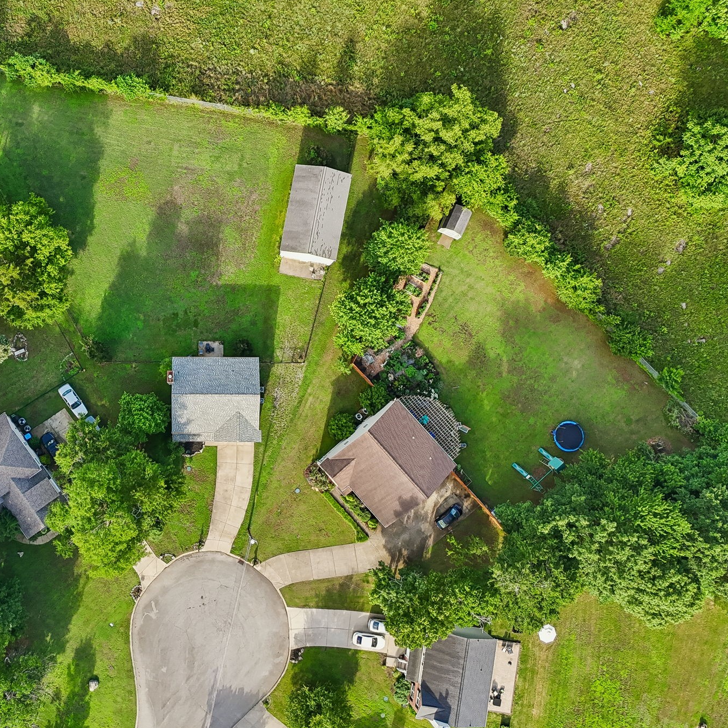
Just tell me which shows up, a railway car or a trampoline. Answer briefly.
trampoline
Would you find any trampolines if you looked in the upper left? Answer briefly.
No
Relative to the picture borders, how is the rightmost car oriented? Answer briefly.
on a diagonal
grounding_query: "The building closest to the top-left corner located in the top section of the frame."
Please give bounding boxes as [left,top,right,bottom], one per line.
[280,164,352,262]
